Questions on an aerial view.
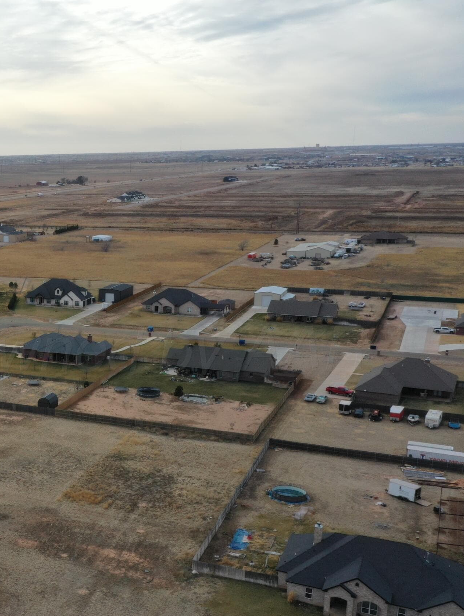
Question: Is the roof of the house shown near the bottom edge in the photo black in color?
Yes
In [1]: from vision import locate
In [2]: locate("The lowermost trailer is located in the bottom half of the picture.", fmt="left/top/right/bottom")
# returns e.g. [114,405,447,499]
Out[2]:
[381,472,434,503]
